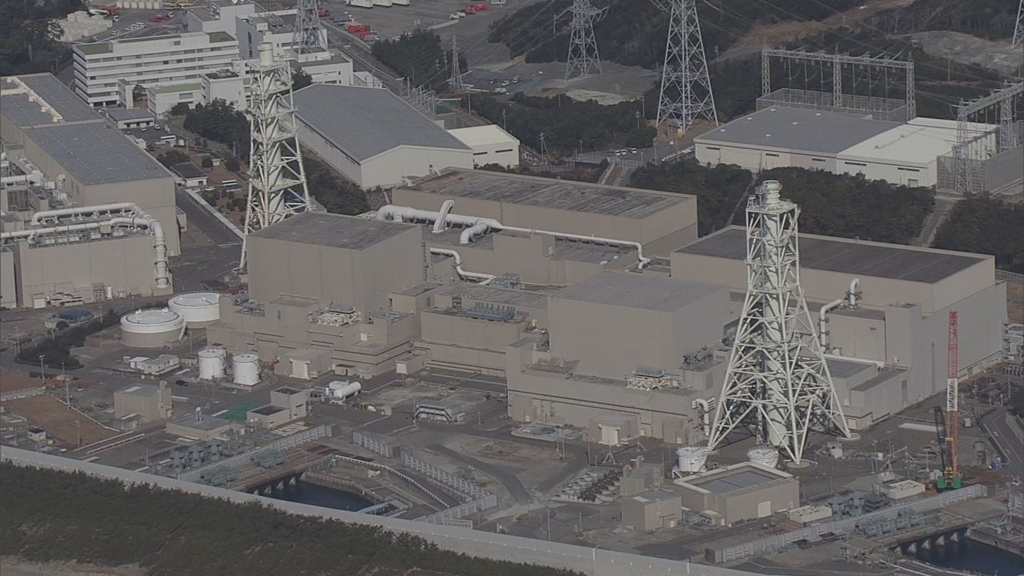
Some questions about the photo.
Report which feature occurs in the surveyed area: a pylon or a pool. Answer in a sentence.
Of the two, only a pylon appears.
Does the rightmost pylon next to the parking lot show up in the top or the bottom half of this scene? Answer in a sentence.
The top half of the photo is where the rightmost pylon next to the parking lot is.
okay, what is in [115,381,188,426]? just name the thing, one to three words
building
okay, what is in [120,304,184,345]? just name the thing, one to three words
storage tank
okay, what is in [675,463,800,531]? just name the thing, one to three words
building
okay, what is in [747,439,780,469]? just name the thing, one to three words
water tank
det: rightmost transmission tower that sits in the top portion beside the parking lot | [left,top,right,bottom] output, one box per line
[651,0,722,134]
